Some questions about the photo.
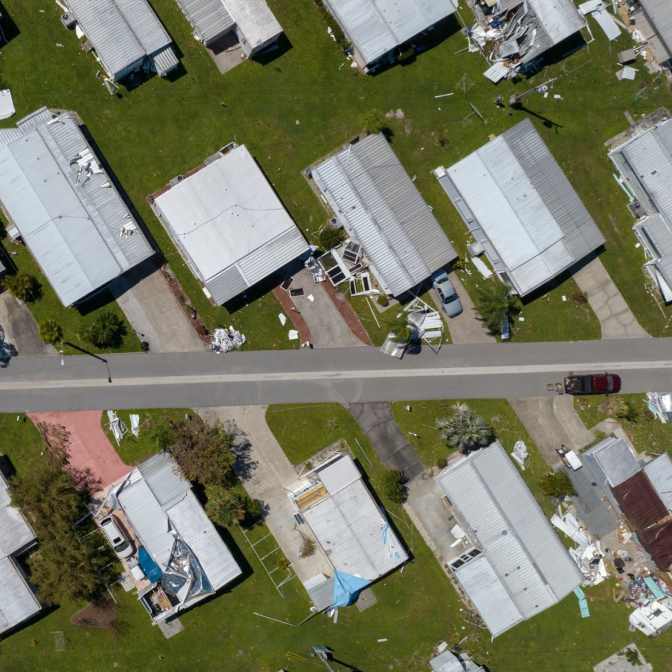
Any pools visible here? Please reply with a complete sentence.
No, no pool is visible in the scene.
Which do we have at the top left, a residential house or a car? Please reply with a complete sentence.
The one visible at the top left is a residential house.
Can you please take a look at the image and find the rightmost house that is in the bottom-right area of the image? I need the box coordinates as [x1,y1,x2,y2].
[574,435,672,600]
